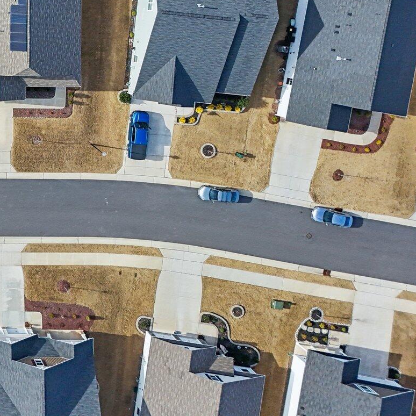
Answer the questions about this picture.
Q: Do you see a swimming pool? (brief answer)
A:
No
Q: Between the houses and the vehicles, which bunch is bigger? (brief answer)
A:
houses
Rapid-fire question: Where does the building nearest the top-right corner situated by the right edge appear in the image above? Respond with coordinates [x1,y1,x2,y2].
[277,0,416,132]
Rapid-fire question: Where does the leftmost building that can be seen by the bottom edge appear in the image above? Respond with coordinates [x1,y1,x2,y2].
[0,325,101,416]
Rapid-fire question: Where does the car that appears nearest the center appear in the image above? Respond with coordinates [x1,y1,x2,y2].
[197,184,240,204]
